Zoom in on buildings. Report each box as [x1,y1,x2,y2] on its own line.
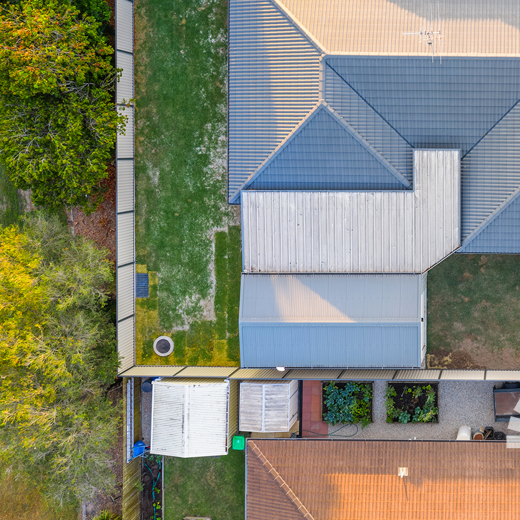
[226,0,520,257]
[151,378,238,457]
[242,438,520,520]
[239,379,299,433]
[235,273,429,373]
